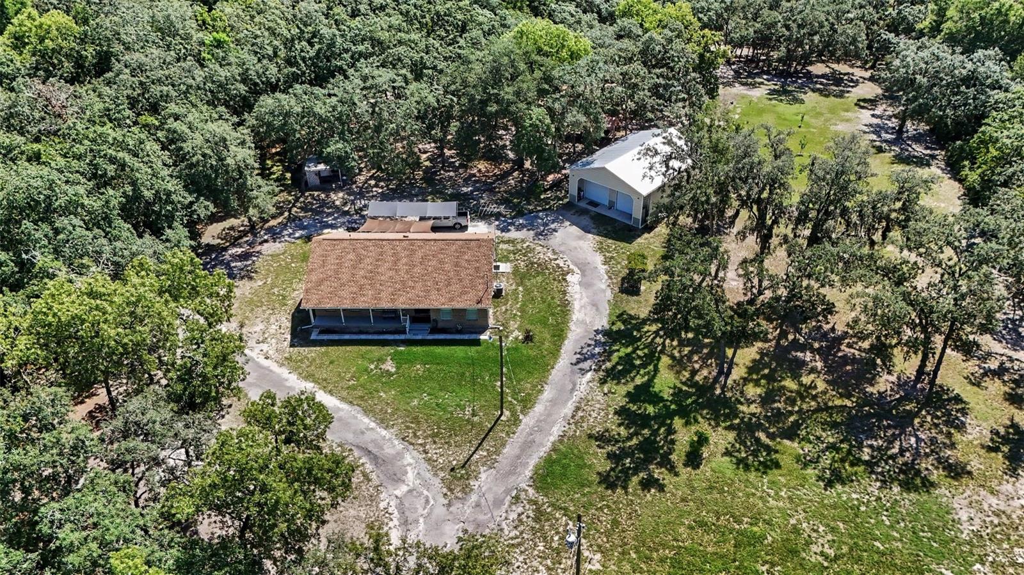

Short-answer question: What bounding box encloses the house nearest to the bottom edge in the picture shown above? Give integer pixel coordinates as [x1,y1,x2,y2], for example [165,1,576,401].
[300,232,502,335]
